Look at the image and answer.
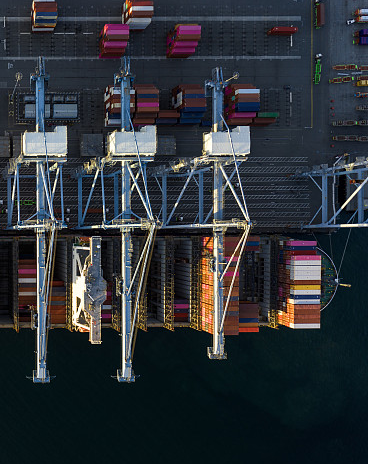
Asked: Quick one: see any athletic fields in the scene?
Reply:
No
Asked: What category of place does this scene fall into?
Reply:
port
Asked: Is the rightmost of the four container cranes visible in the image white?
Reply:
No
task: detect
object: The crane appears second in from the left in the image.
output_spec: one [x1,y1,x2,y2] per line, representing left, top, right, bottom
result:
[69,55,155,385]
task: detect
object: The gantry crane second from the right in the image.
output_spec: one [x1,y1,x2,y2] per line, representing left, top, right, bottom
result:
[146,55,265,361]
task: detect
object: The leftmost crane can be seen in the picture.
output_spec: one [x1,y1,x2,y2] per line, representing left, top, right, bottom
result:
[1,55,65,385]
